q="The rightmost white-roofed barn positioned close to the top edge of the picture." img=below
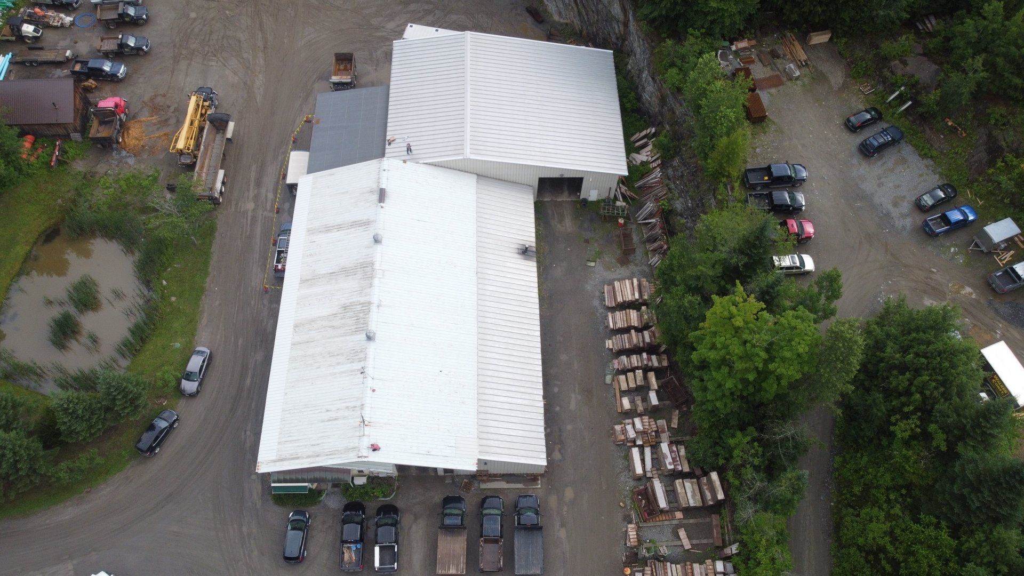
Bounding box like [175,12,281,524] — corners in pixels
[385,28,629,202]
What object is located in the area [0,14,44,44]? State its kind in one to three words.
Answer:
work vehicle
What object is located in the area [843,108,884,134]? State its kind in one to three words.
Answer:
car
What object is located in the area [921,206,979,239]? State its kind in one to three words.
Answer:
truck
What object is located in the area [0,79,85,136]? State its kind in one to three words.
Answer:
shed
